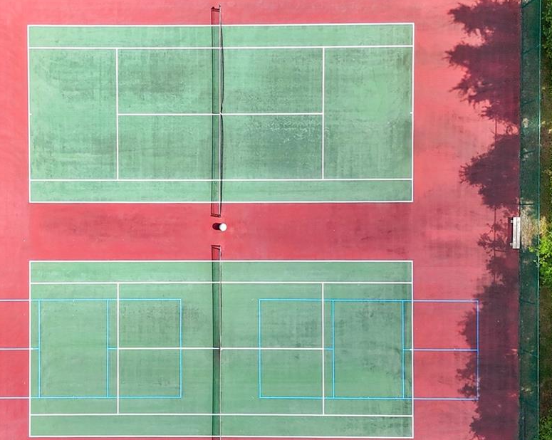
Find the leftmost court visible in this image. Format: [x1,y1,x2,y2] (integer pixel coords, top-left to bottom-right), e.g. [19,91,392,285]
[0,301,181,399]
